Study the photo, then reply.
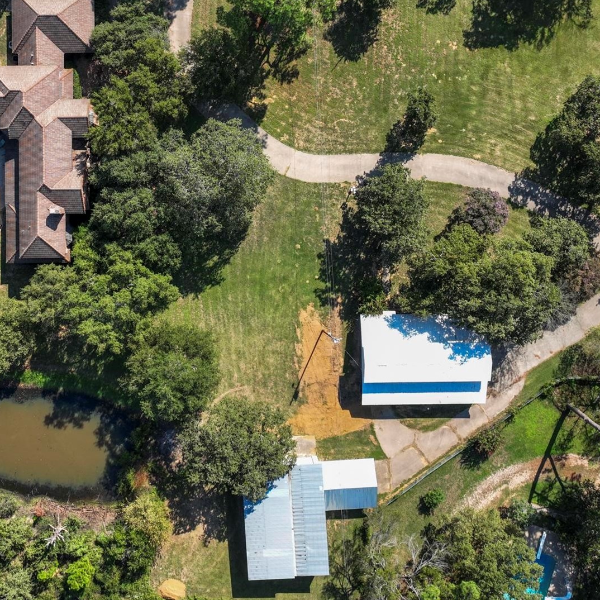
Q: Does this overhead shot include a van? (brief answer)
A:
No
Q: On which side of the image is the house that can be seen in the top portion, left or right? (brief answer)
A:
left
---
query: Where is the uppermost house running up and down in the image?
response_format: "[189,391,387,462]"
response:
[0,0,99,264]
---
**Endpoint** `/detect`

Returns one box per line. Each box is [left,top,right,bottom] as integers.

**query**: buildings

[244,450,330,581]
[0,0,99,264]
[360,309,493,406]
